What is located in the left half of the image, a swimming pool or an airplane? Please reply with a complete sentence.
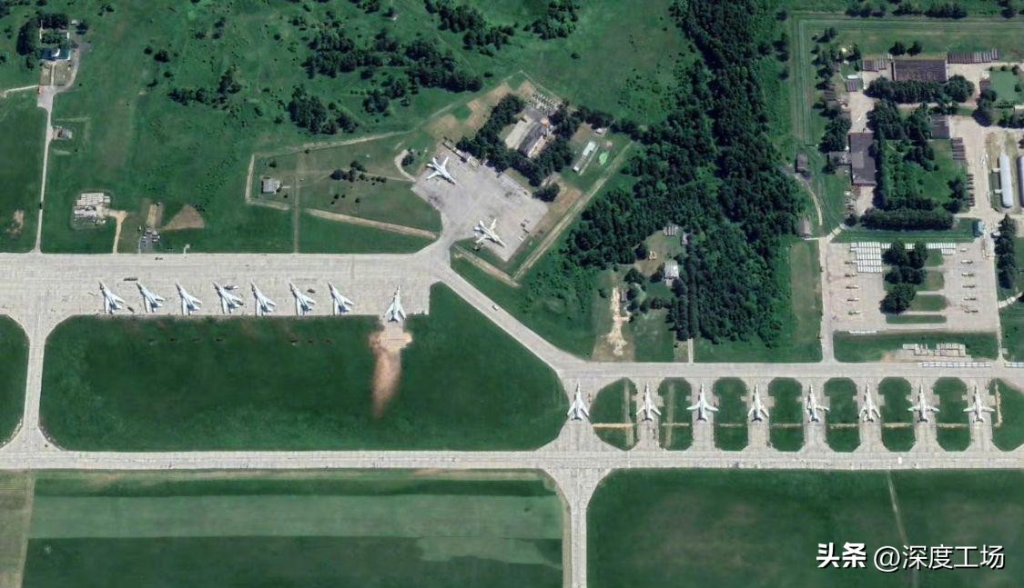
You can see an airplane in the left half of the image.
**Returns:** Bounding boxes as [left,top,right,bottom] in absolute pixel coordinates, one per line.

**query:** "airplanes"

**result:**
[328,282,354,317]
[963,386,994,423]
[908,385,939,422]
[289,280,315,315]
[251,279,277,314]
[688,382,718,420]
[748,384,769,421]
[637,383,661,421]
[473,219,507,248]
[567,383,589,421]
[383,284,407,323]
[426,156,458,185]
[859,383,880,421]
[136,281,163,316]
[99,280,125,315]
[213,281,240,316]
[803,384,828,422]
[176,282,202,316]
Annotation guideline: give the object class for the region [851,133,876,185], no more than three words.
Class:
building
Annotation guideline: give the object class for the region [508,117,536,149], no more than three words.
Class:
building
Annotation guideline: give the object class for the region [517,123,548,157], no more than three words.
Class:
hangar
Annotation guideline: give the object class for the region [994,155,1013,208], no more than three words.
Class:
hangar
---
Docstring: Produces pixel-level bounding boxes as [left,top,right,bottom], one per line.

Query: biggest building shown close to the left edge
[40,47,70,59]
